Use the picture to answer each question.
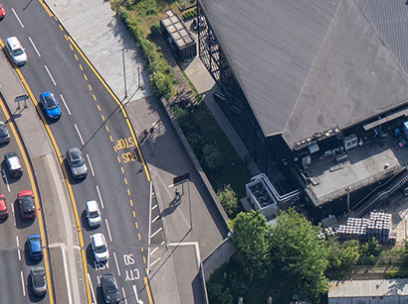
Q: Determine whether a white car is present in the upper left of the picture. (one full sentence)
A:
Yes, looking in the upper left of the picture, one can make out a white car.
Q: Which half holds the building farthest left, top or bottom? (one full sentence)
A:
You can find the building farthest left in the top half.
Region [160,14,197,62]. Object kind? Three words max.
building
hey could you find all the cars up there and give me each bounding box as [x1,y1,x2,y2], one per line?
[85,201,103,229]
[29,268,47,297]
[0,195,8,221]
[92,236,109,263]
[25,237,42,262]
[0,122,8,145]
[0,4,5,19]
[4,154,22,178]
[40,92,61,120]
[5,36,28,65]
[66,148,87,178]
[18,191,36,220]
